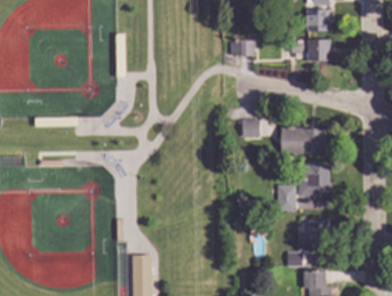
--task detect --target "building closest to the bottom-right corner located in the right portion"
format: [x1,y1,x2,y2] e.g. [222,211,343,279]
[304,270,332,296]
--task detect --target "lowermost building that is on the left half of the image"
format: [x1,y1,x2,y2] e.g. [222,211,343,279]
[132,256,153,296]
